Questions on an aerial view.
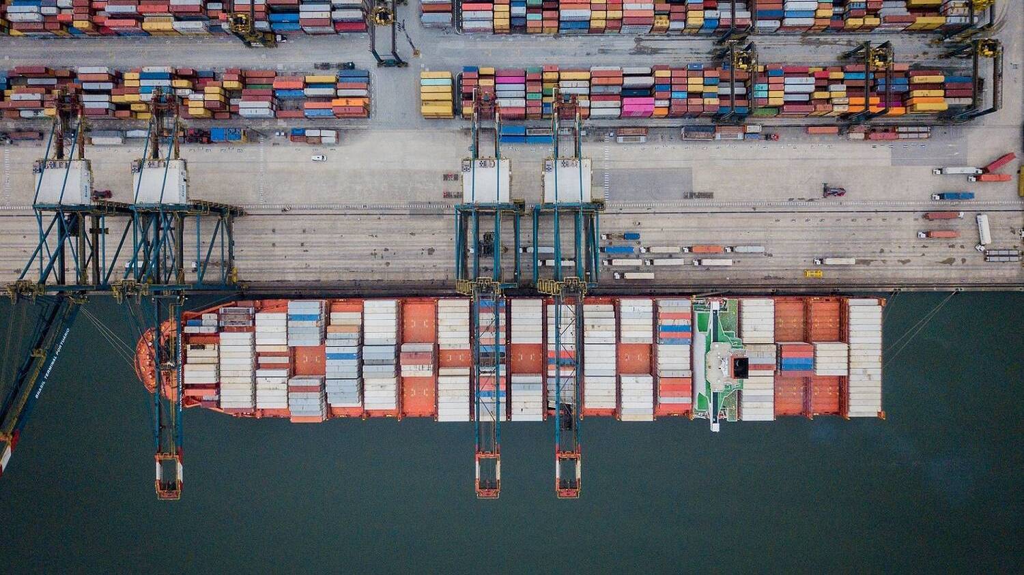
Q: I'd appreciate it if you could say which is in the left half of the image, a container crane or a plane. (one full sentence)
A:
What appears in the left half of the image is a container crane.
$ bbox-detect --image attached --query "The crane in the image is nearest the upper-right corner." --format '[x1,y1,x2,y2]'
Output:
[943,0,995,41]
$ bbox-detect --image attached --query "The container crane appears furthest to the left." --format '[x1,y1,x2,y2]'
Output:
[0,82,150,457]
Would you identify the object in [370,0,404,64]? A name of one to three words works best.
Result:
crane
